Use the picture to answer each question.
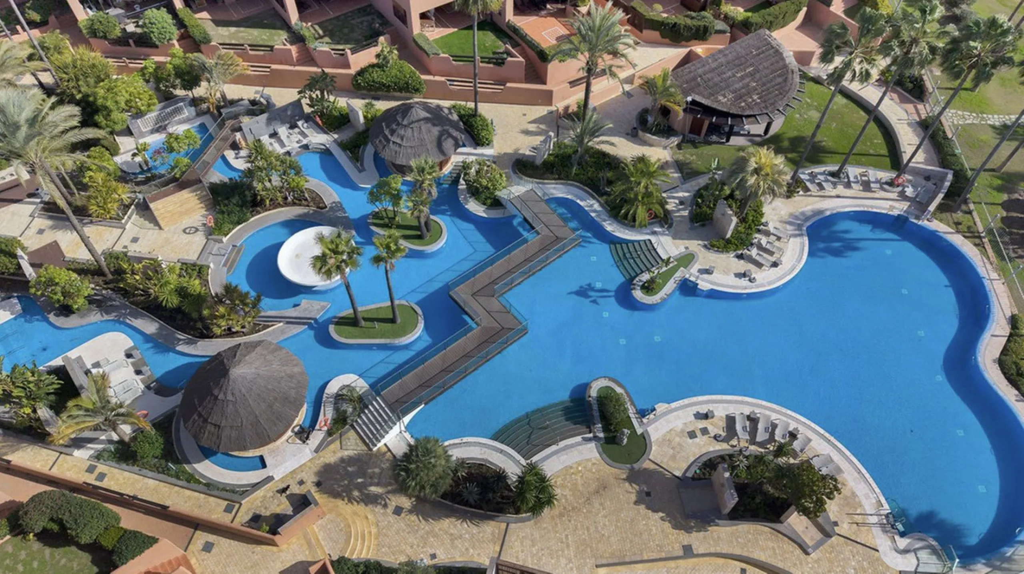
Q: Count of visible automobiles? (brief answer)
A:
none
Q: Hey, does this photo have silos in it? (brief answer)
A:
No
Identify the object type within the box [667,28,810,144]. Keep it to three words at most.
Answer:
building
